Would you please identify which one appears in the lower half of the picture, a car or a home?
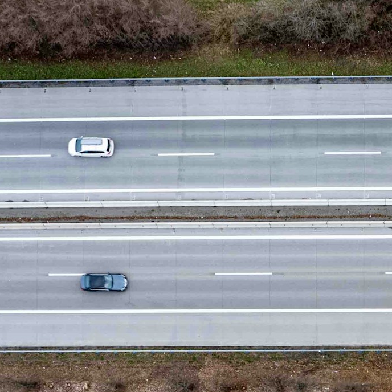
car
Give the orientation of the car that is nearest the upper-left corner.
horizontally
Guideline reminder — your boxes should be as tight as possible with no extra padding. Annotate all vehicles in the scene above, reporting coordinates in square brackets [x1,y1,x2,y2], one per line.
[69,137,115,157]
[80,272,130,292]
